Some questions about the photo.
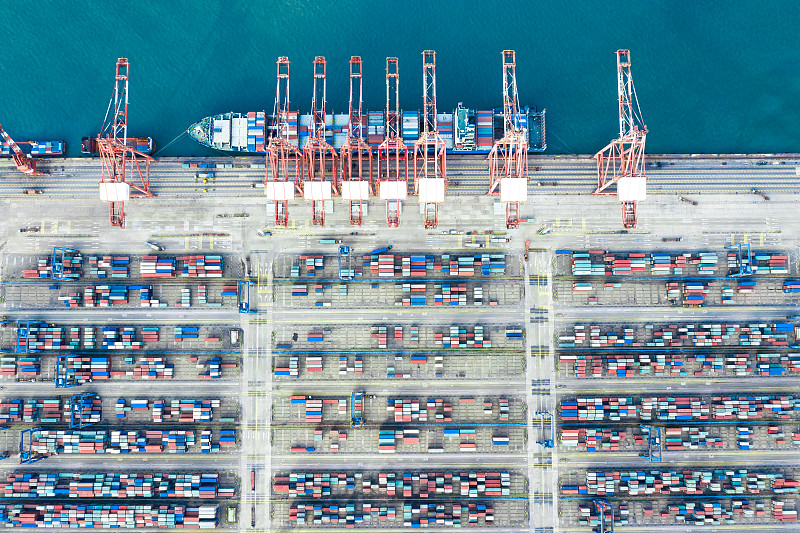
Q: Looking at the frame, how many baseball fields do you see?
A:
0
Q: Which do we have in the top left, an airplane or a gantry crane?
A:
gantry crane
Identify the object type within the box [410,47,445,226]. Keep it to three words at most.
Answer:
container crane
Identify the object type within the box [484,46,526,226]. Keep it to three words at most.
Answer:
container crane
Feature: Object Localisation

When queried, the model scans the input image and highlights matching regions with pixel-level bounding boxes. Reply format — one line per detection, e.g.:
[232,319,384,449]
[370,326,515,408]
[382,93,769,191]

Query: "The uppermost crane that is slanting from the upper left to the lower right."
[0,127,52,178]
